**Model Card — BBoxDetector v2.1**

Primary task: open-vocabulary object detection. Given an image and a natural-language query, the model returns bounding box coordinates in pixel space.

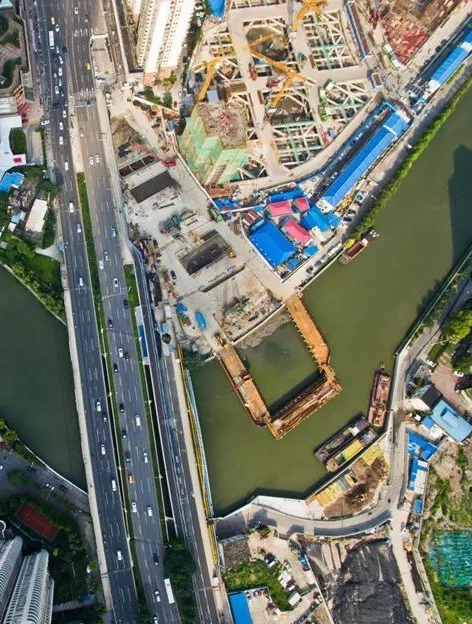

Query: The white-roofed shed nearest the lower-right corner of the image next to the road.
[405,458,428,491]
